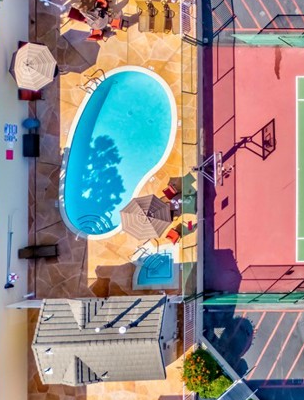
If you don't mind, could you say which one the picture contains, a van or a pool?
pool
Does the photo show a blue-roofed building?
No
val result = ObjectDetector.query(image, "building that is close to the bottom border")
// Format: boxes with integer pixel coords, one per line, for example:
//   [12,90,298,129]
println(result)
[30,297,179,386]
